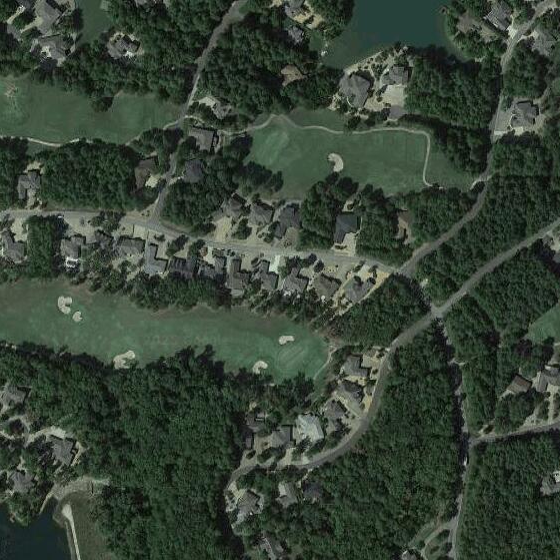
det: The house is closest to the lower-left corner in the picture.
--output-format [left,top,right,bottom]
[8,471,35,492]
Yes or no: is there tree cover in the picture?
Yes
